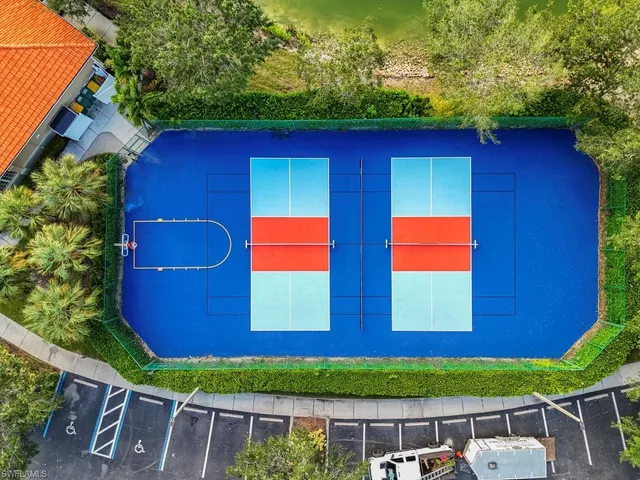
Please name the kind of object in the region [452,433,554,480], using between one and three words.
trailer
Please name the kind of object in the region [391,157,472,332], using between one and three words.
sports court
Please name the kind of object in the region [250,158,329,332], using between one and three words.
sports court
